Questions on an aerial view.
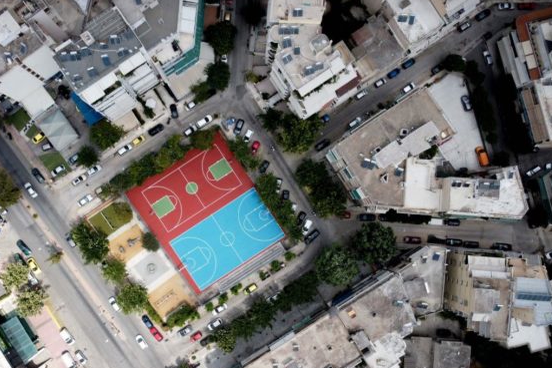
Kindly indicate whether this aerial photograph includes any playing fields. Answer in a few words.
Yes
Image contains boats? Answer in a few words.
No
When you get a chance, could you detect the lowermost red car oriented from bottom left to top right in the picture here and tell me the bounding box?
[188,330,203,343]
